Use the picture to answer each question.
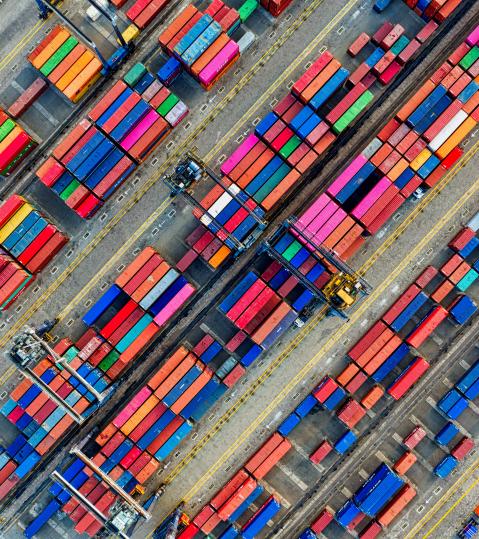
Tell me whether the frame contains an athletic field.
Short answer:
No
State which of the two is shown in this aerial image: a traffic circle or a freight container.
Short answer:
freight container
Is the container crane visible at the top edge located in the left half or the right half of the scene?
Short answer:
left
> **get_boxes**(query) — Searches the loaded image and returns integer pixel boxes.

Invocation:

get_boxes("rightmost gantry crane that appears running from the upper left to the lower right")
[256,222,365,318]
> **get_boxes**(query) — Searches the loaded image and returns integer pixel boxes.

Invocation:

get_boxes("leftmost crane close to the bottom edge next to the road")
[52,424,166,539]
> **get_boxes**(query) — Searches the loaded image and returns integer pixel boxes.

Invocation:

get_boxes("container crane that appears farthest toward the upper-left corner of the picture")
[36,0,136,79]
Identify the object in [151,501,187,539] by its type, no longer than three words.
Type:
container crane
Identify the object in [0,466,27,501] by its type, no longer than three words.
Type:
shipping container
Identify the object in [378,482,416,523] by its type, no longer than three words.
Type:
shipping container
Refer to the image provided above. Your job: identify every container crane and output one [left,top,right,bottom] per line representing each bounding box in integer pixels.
[166,151,267,256]
[36,0,136,79]
[2,316,123,424]
[52,424,166,539]
[256,222,365,318]
[151,501,187,539]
